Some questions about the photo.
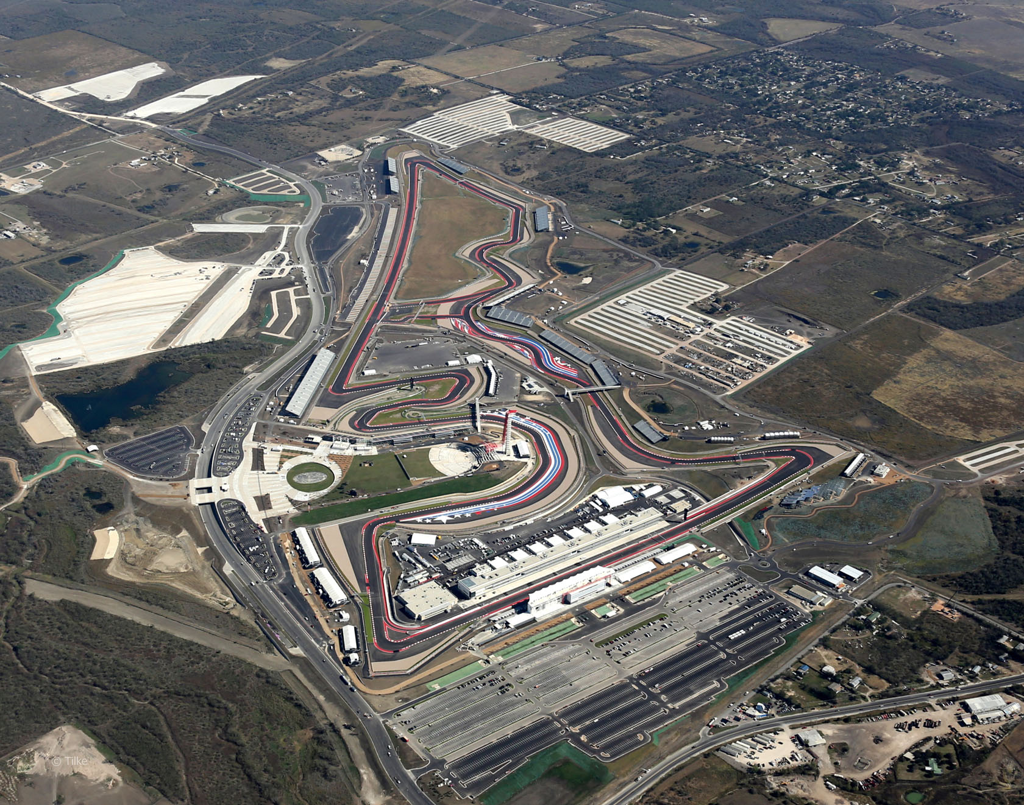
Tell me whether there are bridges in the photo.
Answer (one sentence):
Yes, there's a bridge here.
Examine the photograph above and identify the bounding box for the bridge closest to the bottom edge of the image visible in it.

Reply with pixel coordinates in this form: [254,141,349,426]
[185,477,218,509]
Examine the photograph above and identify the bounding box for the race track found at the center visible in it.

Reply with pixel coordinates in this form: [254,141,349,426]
[334,160,809,650]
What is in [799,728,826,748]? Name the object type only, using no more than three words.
shed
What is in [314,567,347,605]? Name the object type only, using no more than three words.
tent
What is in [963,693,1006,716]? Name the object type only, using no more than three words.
building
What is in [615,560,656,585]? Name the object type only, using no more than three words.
tent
